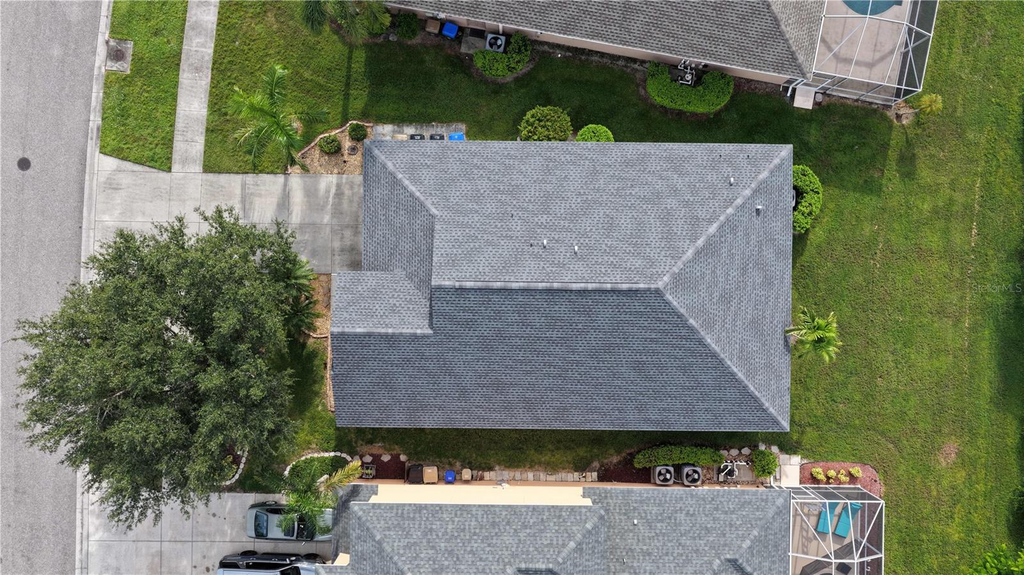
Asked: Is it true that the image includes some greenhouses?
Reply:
No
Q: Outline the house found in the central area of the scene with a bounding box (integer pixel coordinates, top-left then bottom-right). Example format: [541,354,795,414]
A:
[328,139,794,435]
